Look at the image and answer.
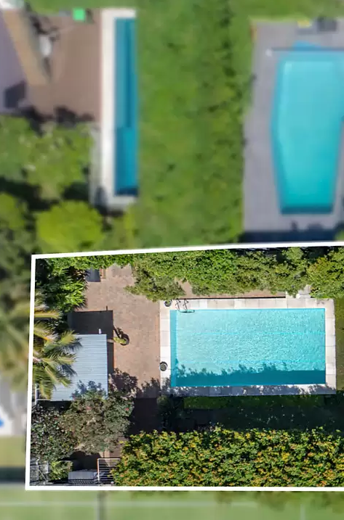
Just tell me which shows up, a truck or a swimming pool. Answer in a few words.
swimming pool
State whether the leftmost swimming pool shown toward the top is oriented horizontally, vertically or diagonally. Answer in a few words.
vertically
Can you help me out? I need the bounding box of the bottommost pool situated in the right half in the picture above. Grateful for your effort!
[160,300,335,395]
